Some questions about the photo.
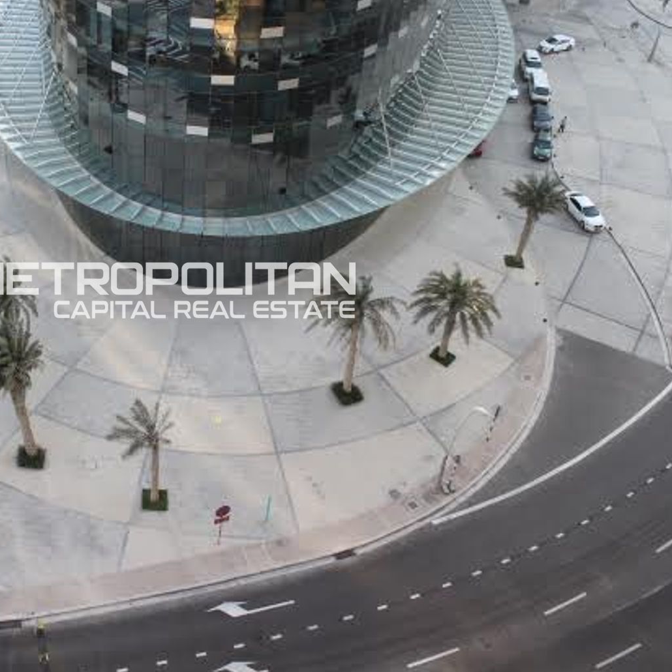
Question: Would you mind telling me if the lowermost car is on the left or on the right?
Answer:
right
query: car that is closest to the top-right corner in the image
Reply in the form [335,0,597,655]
[539,36,578,54]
